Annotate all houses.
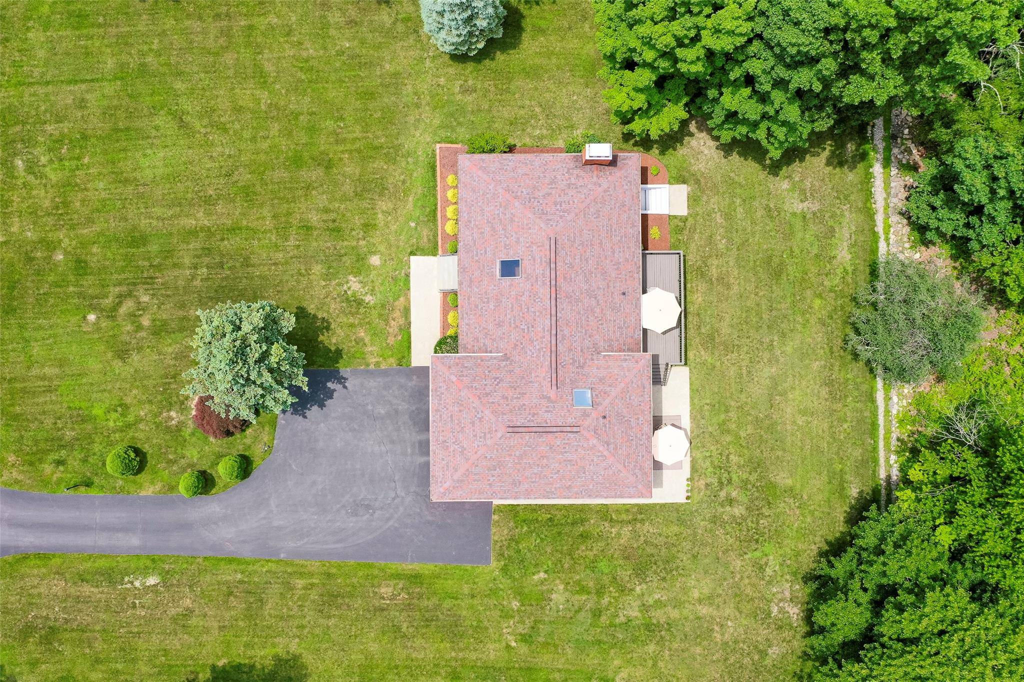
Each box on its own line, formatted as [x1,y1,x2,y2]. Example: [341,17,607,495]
[429,143,653,502]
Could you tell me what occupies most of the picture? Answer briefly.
grass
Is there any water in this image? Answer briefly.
No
